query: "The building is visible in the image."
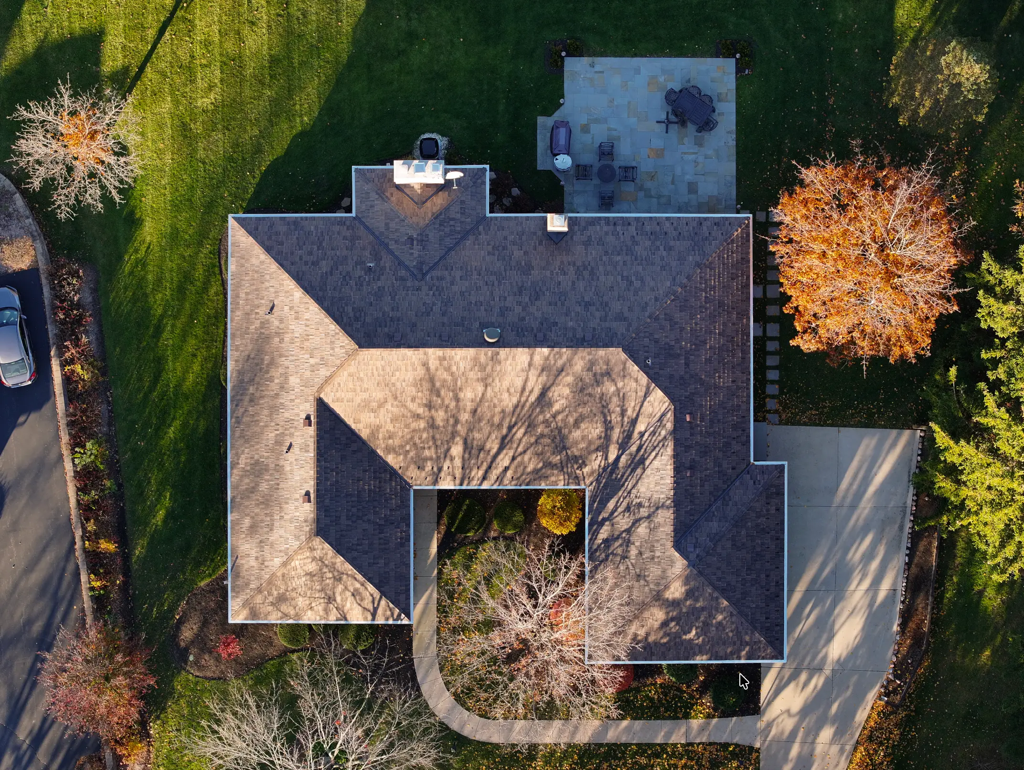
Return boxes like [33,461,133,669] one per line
[227,160,786,664]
